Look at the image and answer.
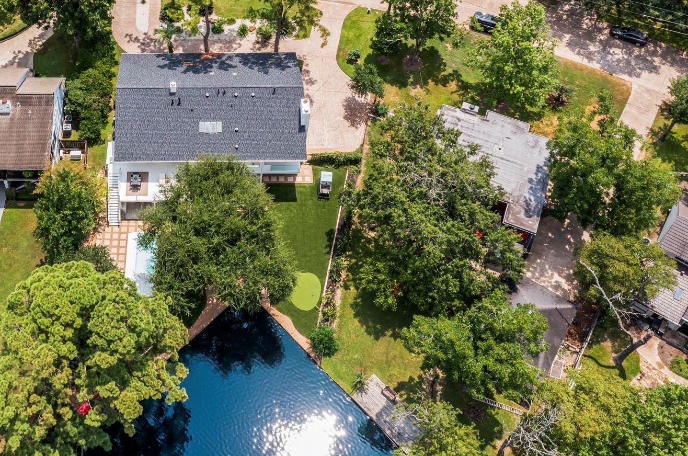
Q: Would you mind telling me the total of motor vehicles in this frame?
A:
two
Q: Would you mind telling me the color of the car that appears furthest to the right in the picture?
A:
black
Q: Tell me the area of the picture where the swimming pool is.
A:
left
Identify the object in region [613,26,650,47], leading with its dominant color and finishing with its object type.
black car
